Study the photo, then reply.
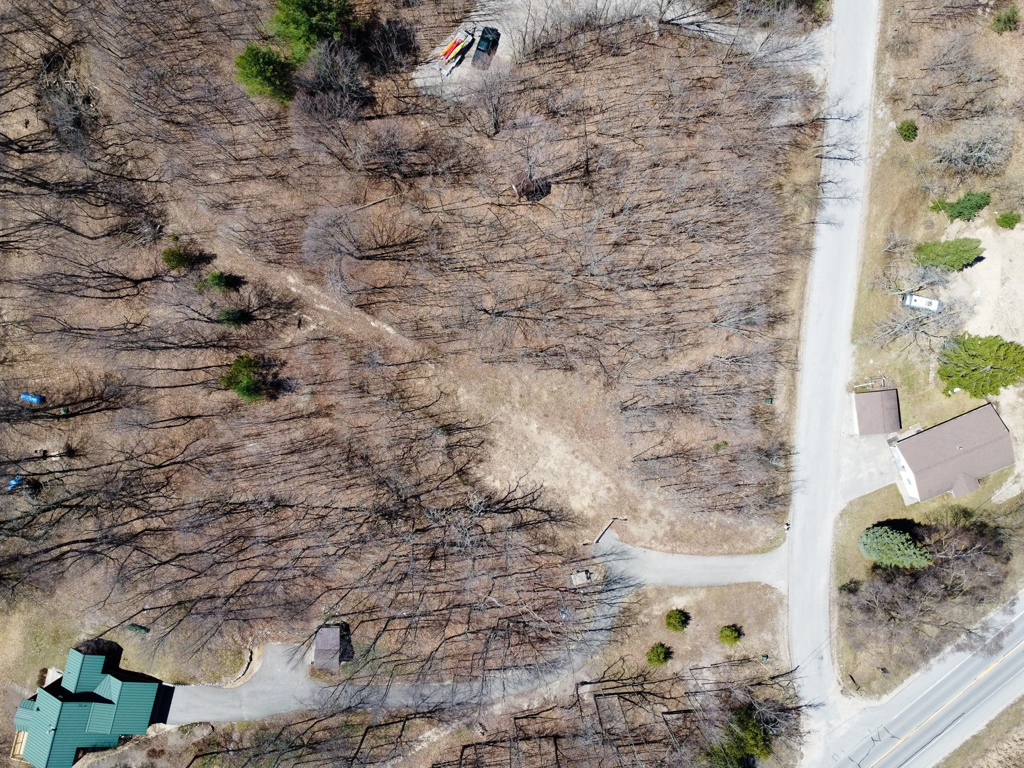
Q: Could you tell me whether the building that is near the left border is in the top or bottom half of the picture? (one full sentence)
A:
Seen from above, the building that is near the left border lies in the bottom half of the view.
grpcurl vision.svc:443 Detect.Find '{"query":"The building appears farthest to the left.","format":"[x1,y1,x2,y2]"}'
[6,642,164,768]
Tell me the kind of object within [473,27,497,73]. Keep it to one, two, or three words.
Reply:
truck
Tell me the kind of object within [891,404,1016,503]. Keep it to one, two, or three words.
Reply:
house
